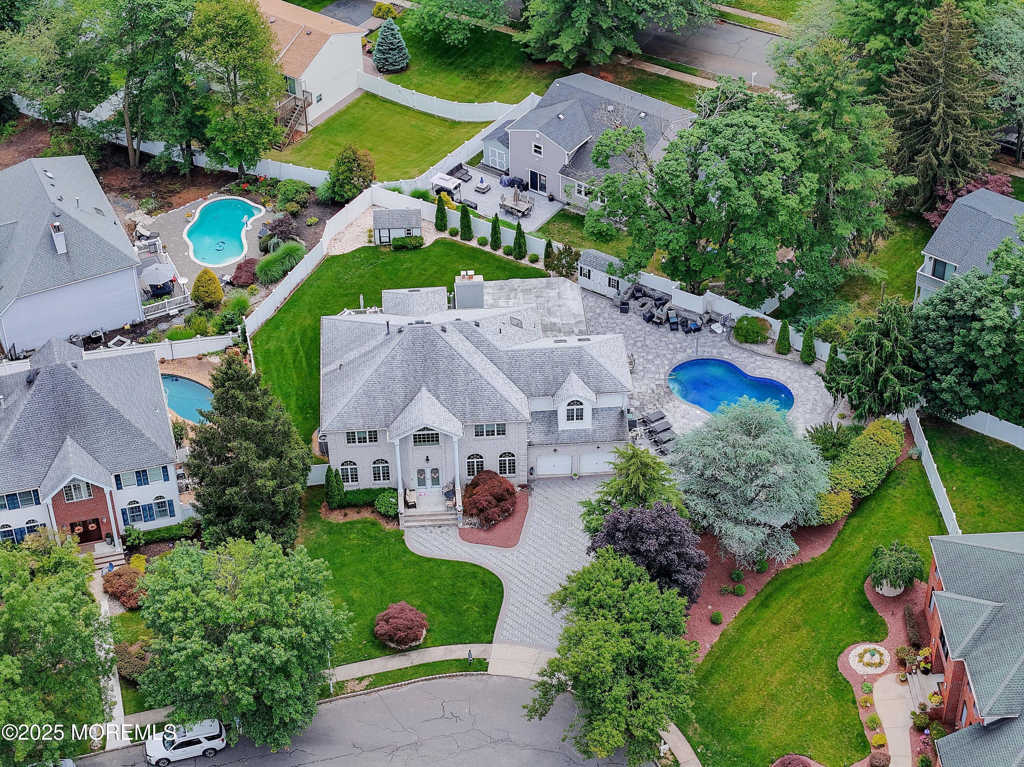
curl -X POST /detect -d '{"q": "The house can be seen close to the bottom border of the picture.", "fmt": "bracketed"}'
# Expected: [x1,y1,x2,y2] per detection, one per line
[907,532,1024,767]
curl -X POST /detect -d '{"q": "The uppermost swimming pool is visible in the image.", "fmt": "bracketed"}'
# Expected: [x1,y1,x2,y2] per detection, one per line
[183,196,266,266]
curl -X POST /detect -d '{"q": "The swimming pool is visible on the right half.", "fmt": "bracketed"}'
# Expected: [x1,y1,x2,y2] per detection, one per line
[663,355,799,425]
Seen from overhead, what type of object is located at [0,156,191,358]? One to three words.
house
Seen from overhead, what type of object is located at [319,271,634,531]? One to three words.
house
